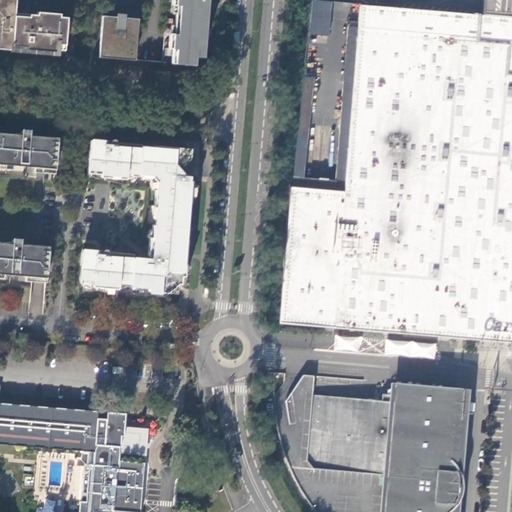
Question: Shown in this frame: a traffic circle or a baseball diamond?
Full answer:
The one in the frame is a traffic circle.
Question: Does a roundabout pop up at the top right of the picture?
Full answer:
No, the scene shows no roundabout at the top right of the picture.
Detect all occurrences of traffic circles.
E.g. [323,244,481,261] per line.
[196,309,262,386]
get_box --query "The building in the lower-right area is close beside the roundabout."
[274,374,476,512]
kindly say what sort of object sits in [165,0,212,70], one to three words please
building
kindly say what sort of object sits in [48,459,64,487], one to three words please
swimming pool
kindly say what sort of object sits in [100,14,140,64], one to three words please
building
